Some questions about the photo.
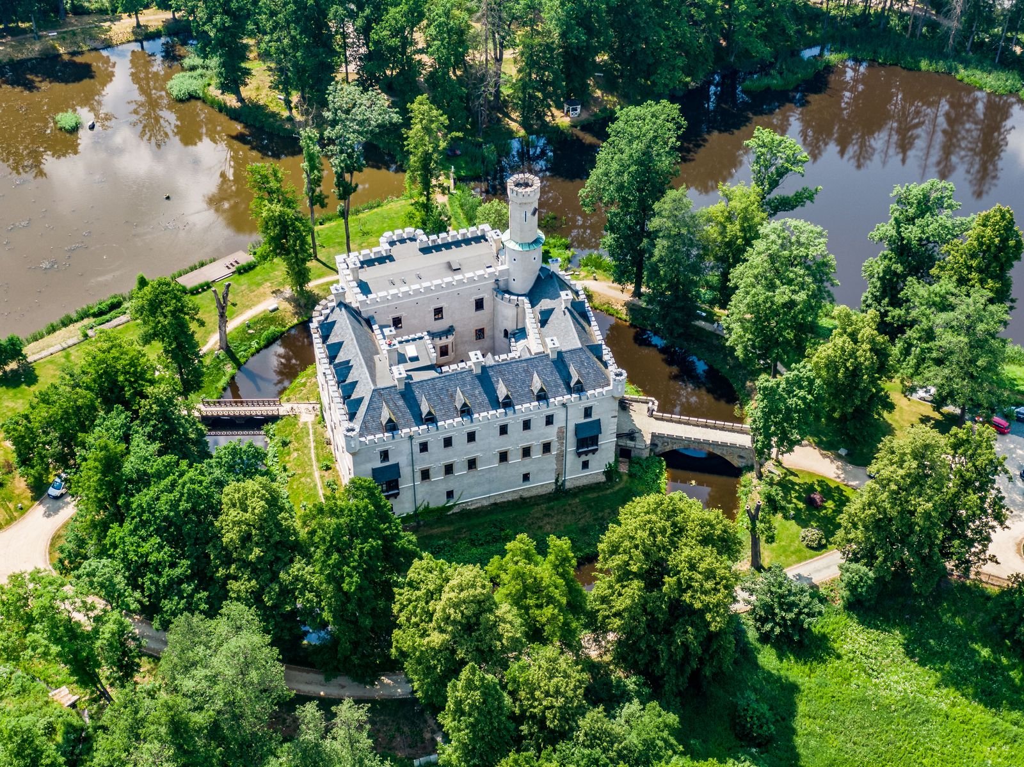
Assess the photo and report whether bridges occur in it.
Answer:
Yes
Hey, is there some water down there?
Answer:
Yes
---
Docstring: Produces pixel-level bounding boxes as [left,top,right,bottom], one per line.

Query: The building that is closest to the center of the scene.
[310,175,628,535]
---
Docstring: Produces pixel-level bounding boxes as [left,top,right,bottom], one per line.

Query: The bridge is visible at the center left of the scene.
[187,395,285,424]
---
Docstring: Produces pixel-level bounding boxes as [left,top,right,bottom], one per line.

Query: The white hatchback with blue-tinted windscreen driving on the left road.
[46,473,68,498]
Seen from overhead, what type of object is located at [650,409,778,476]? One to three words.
bridge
